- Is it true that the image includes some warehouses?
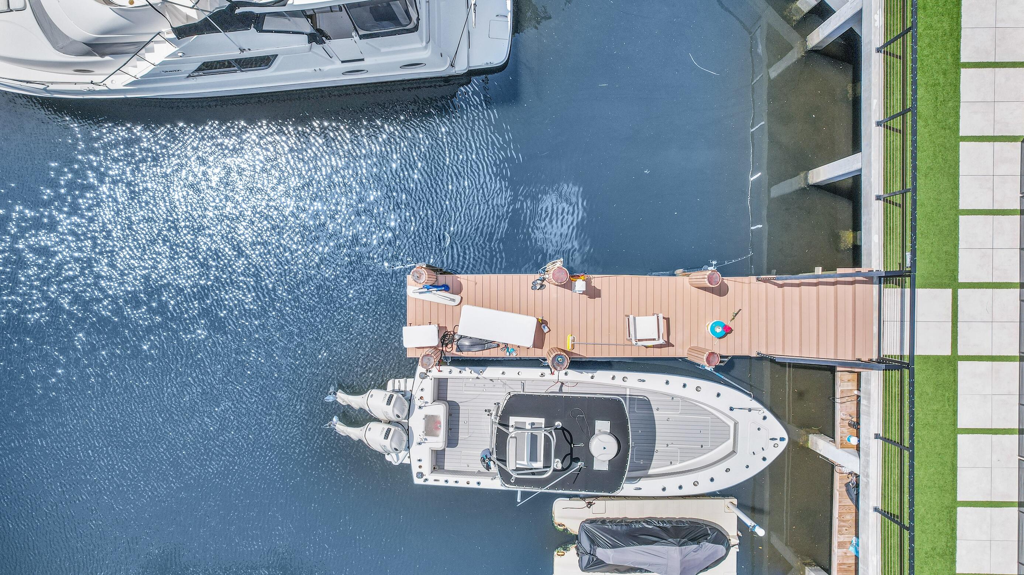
No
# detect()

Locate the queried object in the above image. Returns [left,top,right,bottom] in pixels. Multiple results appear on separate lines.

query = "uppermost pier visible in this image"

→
[407,275,748,357]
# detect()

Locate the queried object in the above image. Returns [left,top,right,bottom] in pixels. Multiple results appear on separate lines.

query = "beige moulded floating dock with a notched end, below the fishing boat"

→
[548,493,739,575]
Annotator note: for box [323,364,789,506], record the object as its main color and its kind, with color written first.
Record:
white boat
